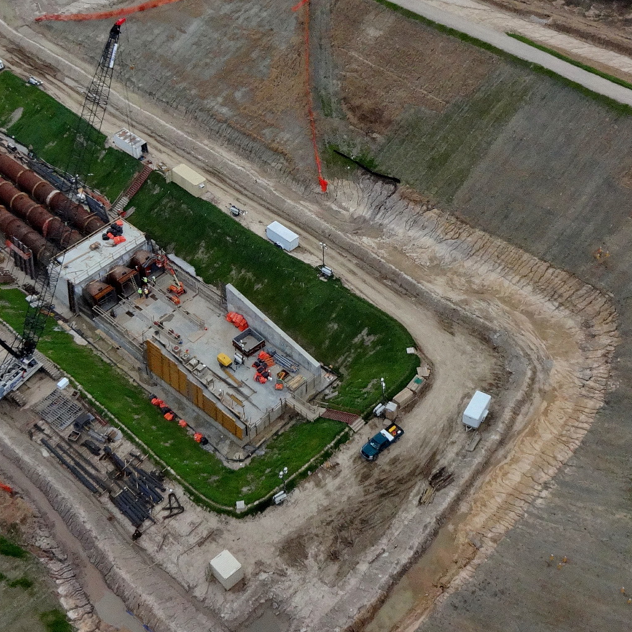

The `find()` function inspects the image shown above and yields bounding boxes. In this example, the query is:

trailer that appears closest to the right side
[463,392,491,436]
